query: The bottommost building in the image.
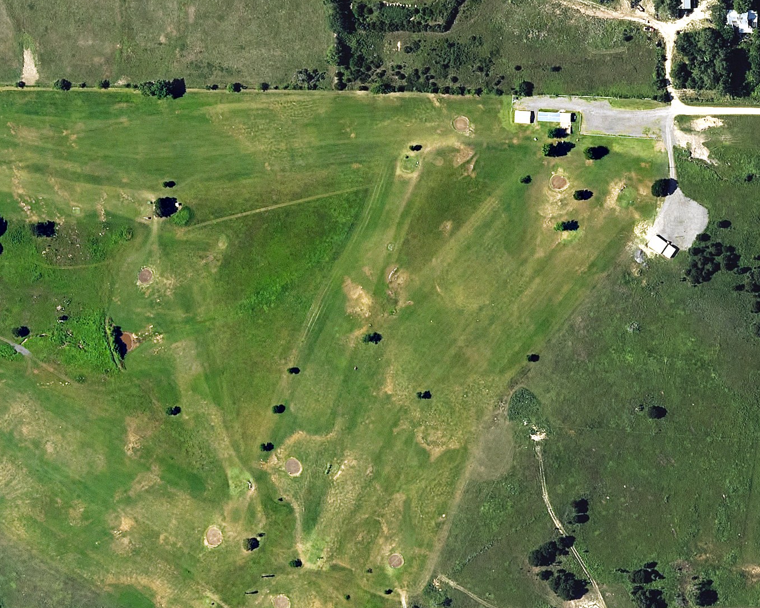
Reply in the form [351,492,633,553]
[648,235,680,261]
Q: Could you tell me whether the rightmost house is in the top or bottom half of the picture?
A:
top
